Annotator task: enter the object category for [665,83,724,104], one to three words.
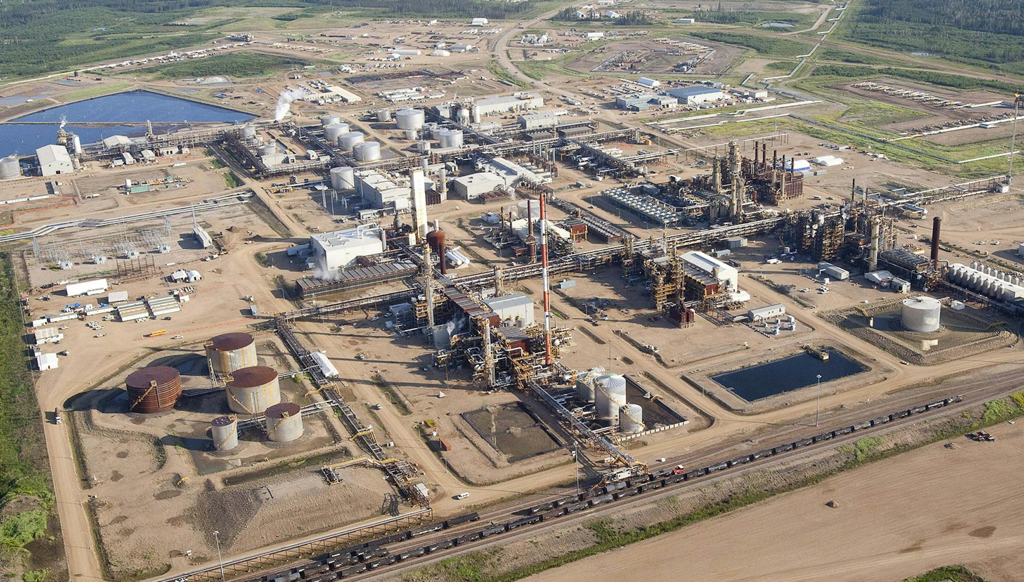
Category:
building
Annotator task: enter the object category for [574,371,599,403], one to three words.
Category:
silo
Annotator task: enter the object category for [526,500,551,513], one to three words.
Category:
rail car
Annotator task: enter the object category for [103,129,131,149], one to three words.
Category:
shed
